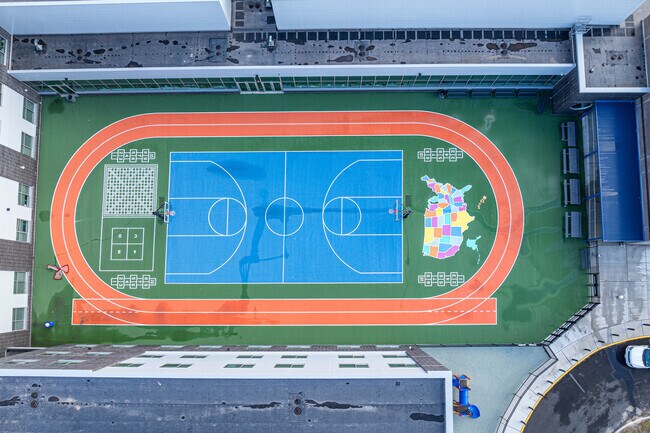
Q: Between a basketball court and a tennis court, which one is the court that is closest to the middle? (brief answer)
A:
basketball court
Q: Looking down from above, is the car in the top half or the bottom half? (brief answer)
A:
bottom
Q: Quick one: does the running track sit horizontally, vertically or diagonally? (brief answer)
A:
horizontally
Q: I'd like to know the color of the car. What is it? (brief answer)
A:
white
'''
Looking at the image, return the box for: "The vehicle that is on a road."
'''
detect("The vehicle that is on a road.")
[623,345,650,370]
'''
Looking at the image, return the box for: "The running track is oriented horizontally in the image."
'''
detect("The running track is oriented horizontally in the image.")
[50,110,524,325]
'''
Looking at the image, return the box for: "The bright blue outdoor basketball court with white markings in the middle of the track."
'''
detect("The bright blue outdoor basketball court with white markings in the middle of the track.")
[164,150,403,284]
